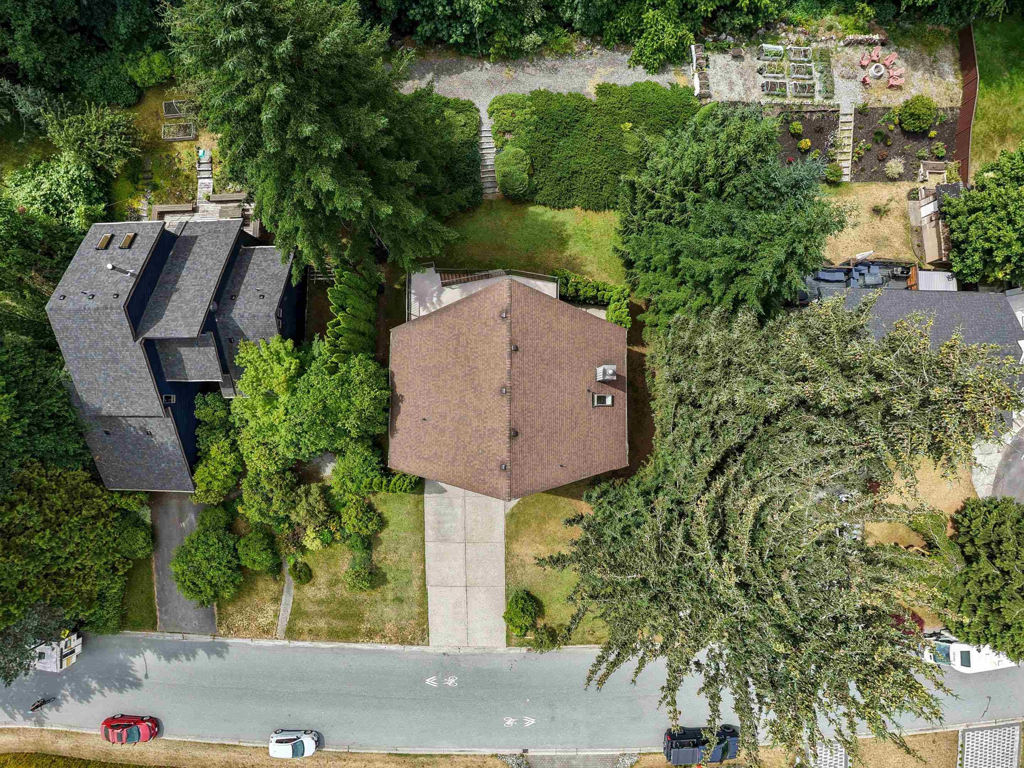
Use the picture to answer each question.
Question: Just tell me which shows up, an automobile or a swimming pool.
automobile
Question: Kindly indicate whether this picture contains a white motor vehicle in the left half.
Yes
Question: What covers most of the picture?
trees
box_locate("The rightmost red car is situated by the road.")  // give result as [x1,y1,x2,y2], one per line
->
[97,712,159,744]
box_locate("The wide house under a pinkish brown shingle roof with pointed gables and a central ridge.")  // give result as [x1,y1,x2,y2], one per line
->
[387,277,630,501]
